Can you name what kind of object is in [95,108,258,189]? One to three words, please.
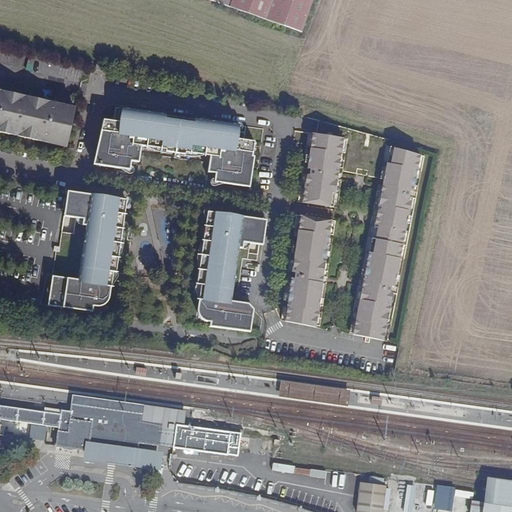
building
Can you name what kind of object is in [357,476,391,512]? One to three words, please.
building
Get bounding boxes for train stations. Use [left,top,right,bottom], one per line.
[30,395,187,470]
